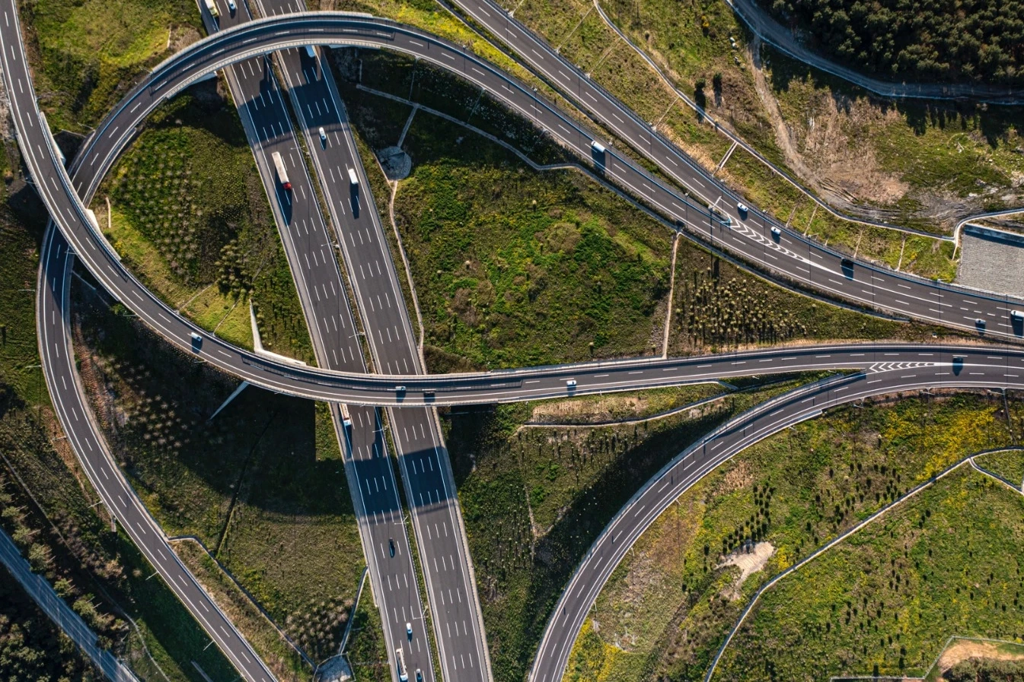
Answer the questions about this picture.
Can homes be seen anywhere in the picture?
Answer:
No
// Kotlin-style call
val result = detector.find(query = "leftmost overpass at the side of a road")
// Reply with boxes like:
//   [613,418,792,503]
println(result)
[13,118,138,299]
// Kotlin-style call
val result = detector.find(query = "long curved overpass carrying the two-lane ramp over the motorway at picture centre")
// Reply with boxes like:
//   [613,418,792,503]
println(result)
[211,300,516,419]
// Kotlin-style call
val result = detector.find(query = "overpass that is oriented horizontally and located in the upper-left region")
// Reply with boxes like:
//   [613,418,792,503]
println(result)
[146,11,383,100]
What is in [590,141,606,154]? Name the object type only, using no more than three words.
vehicle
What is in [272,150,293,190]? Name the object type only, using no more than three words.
truck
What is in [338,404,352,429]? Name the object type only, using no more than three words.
vehicle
